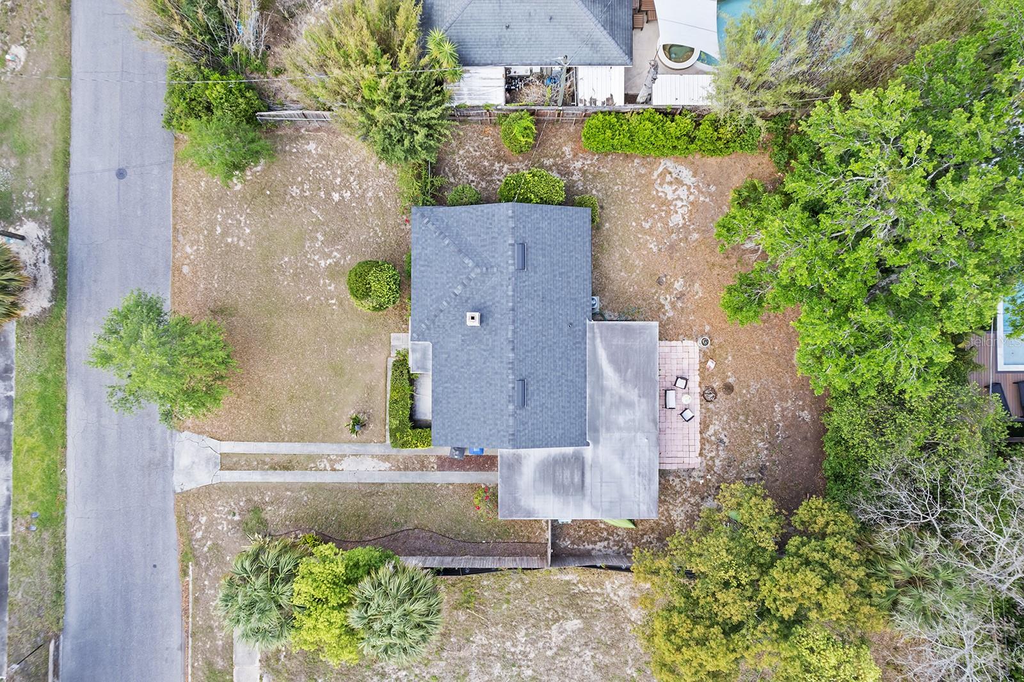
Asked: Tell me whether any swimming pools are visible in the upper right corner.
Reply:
Yes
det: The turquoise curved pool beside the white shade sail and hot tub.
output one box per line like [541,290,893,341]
[696,0,869,73]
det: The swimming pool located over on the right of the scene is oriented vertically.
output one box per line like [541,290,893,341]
[994,282,1024,373]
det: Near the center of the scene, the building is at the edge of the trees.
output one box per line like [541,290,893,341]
[409,202,659,519]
